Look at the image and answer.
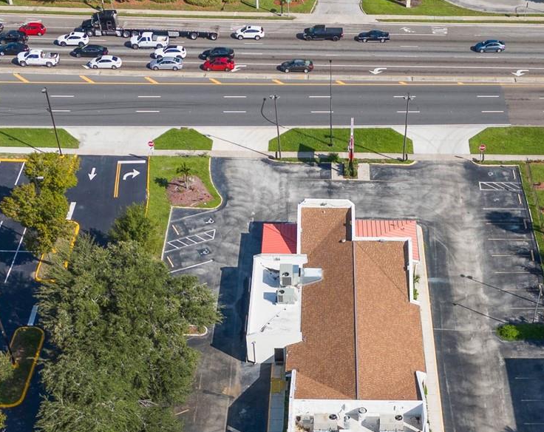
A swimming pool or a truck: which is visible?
truck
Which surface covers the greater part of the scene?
paved ground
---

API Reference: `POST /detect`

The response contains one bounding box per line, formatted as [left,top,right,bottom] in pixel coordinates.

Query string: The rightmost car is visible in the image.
[472,38,506,52]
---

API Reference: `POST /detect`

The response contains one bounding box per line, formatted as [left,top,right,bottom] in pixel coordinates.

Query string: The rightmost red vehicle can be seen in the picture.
[202,57,236,70]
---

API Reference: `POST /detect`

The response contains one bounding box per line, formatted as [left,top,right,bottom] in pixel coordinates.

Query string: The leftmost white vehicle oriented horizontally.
[17,50,60,67]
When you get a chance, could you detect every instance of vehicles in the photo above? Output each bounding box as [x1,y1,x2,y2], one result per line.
[202,57,236,70]
[305,23,343,40]
[76,2,134,36]
[472,38,506,52]
[200,45,233,59]
[88,54,122,69]
[357,29,389,42]
[73,43,107,57]
[0,28,29,44]
[152,43,185,58]
[17,50,60,67]
[129,31,170,49]
[232,23,264,39]
[0,40,30,54]
[58,31,89,45]
[149,55,184,69]
[20,21,49,35]
[278,58,313,73]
